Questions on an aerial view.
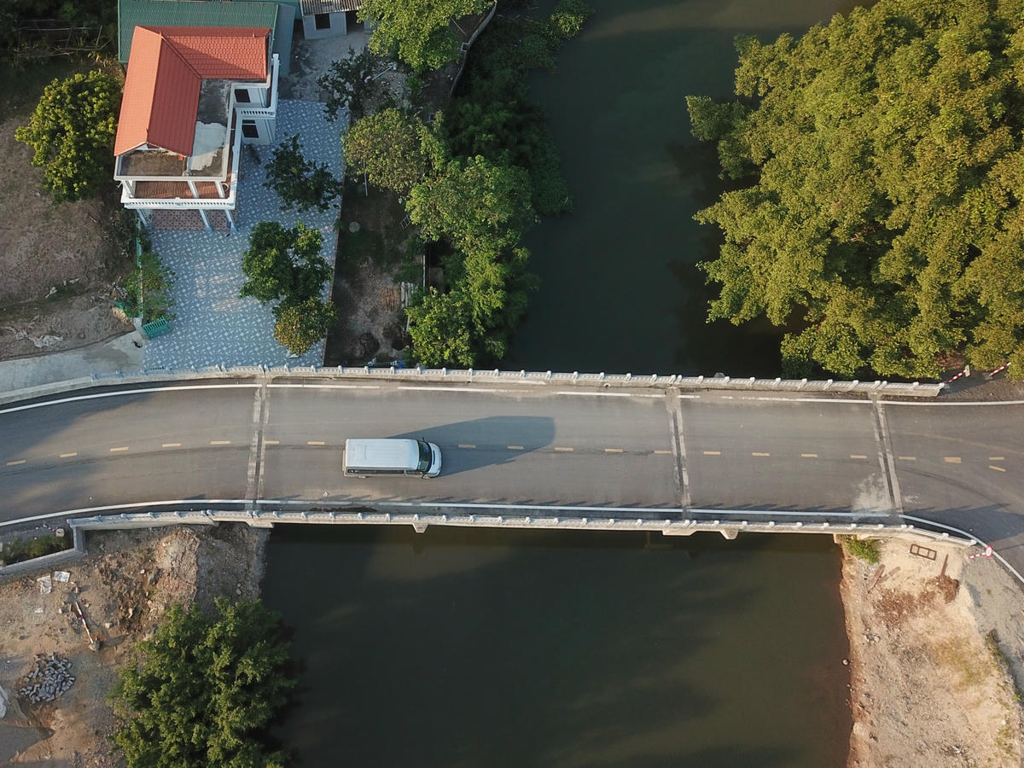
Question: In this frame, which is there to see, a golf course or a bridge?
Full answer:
Looking from above, you can make out a bridge.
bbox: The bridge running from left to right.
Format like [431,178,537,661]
[68,363,975,549]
